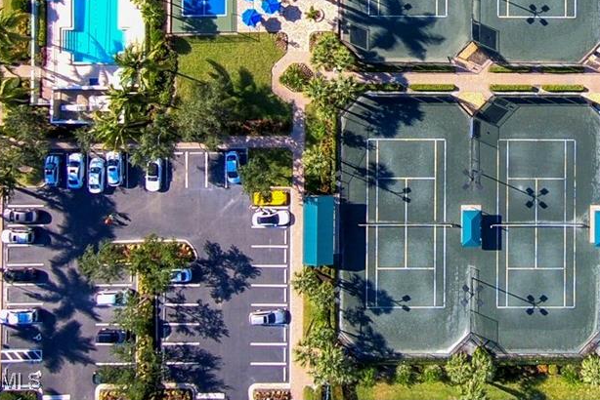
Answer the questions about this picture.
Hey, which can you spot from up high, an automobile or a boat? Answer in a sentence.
There is an automobile in the scene.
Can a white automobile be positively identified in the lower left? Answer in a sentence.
Yes, a white automobile can be seen in the lower left.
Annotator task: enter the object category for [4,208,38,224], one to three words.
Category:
car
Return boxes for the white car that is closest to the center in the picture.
[254,210,289,226]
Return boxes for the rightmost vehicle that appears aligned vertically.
[224,150,241,184]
